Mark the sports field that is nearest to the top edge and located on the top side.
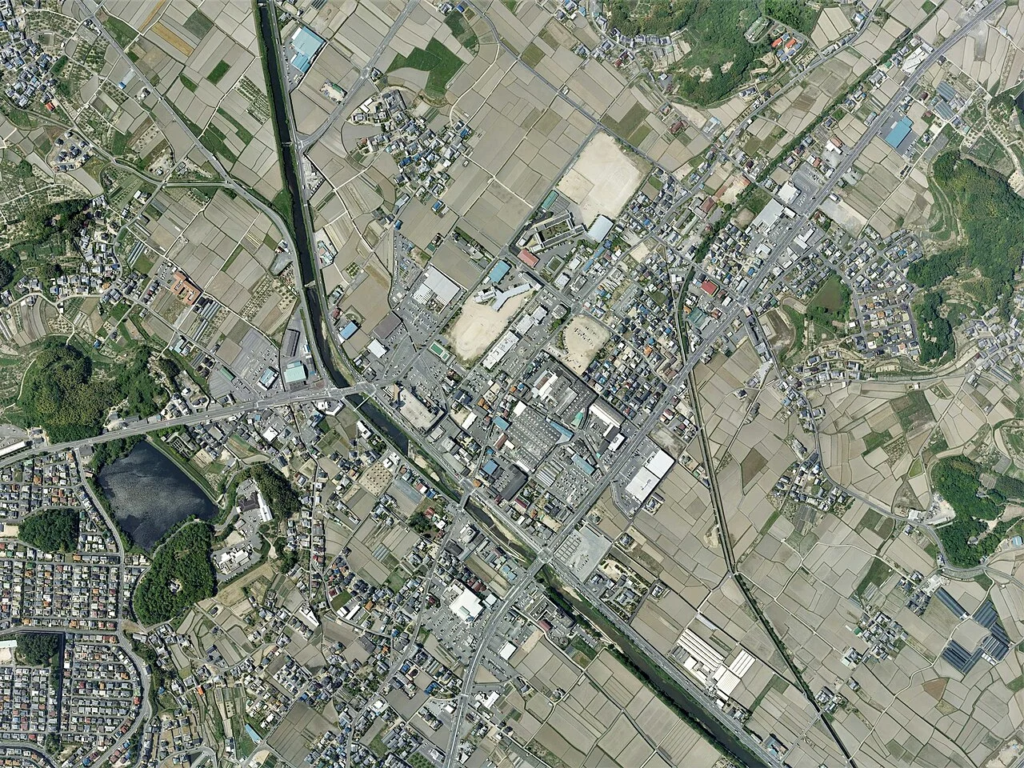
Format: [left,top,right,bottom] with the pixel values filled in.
[558,130,644,224]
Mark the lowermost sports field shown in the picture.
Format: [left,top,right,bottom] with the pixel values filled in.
[563,315,609,374]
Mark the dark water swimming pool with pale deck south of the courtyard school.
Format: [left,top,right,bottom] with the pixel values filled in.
[546,254,565,274]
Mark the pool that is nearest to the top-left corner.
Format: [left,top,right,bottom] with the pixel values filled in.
[429,341,452,362]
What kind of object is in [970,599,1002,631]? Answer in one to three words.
greenhouse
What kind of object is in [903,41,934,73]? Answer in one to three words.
building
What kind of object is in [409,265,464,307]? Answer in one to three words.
house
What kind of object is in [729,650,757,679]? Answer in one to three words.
shed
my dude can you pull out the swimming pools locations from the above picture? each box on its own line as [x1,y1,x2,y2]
[429,341,452,362]
[546,254,565,274]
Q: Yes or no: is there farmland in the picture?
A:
Yes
